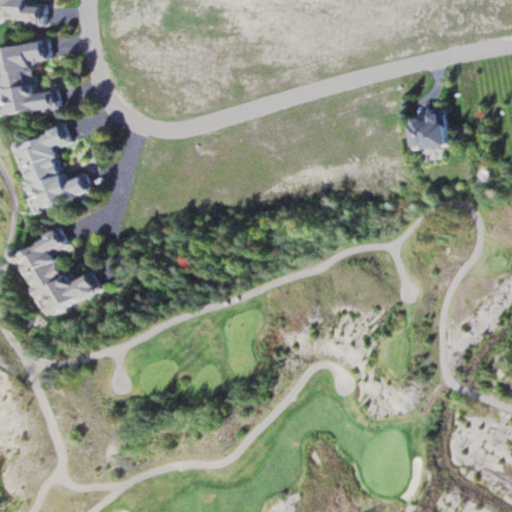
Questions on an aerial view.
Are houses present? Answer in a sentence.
Yes, the frame does contain a house.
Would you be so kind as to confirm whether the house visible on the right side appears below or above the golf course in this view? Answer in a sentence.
The position of the house visible on the right side is above the golf course.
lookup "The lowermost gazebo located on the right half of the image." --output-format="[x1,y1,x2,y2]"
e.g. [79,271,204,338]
[477,167,490,181]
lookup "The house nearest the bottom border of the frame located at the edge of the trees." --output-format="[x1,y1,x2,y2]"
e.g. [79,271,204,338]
[6,226,104,328]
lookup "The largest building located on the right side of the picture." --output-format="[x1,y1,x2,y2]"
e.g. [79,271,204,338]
[404,104,446,161]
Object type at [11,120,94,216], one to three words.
house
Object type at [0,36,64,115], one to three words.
house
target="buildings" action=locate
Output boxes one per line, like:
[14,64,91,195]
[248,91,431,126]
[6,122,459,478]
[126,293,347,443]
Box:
[0,0,51,28]
[11,120,94,216]
[404,104,446,161]
[6,226,104,328]
[0,36,64,115]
